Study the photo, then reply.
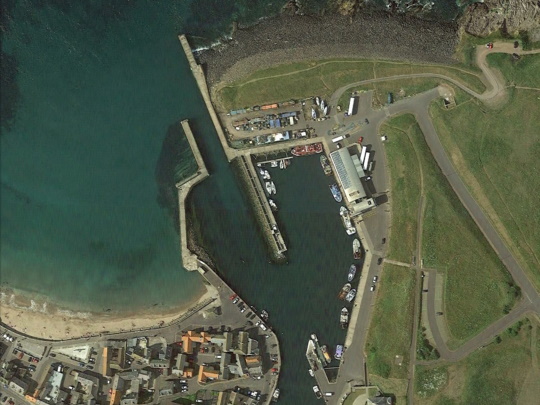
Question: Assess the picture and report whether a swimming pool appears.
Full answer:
No, the scene contains no swimming pool.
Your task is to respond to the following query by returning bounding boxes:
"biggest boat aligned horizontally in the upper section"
[291,144,323,157]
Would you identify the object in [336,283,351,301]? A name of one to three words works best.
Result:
boat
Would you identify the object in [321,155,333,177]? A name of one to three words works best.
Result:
boat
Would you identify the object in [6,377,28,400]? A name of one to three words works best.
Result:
house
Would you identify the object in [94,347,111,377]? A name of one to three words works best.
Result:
house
